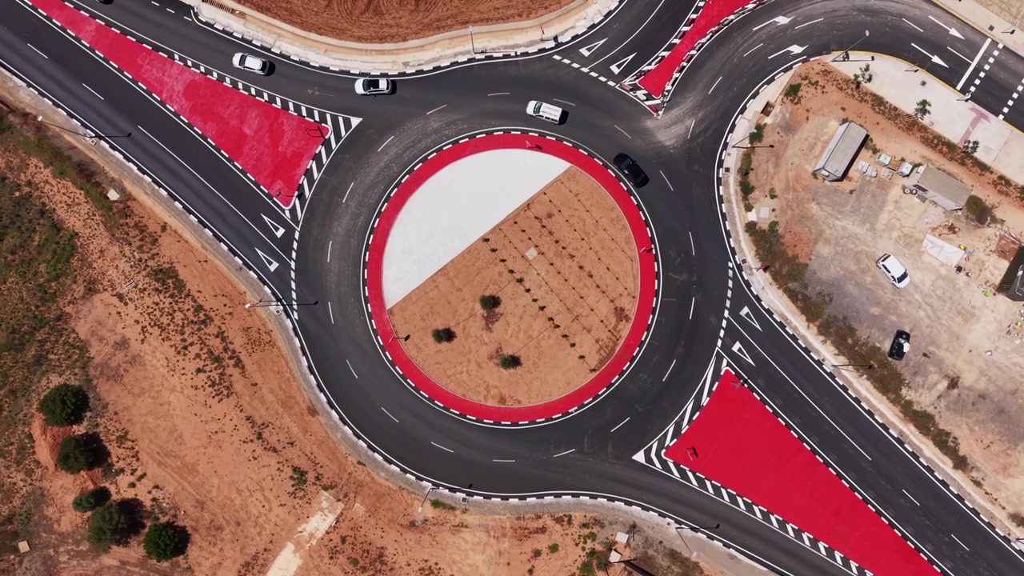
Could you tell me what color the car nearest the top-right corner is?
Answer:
white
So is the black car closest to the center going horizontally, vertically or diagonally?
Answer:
diagonally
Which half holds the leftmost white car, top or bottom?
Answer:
top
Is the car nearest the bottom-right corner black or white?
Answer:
black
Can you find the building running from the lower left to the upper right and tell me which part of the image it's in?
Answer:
top right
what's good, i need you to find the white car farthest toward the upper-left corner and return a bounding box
[232,52,272,76]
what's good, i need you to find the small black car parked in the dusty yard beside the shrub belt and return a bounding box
[886,329,910,362]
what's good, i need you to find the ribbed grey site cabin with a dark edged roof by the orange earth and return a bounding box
[814,123,867,180]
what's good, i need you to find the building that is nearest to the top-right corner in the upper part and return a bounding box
[905,165,972,210]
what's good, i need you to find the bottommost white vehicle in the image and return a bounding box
[877,254,908,287]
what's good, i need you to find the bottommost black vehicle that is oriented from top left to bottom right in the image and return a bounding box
[616,153,649,189]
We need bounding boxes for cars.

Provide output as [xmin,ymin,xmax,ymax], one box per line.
[877,254,908,287]
[886,329,910,362]
[616,153,649,189]
[526,101,565,125]
[232,52,272,76]
[355,76,393,96]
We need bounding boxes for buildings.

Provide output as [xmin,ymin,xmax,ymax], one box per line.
[997,246,1024,301]
[905,165,972,210]
[814,123,867,180]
